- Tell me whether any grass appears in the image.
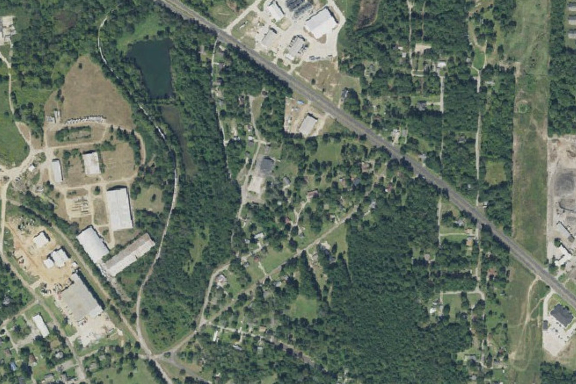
Yes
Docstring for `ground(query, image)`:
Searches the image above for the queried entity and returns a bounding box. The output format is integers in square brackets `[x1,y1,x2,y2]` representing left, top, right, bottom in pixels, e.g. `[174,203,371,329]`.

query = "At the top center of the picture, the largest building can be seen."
[304,7,338,39]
